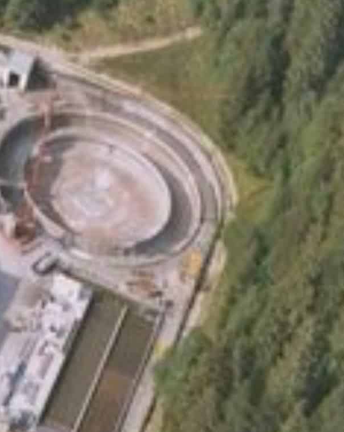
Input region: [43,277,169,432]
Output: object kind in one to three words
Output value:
water tank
